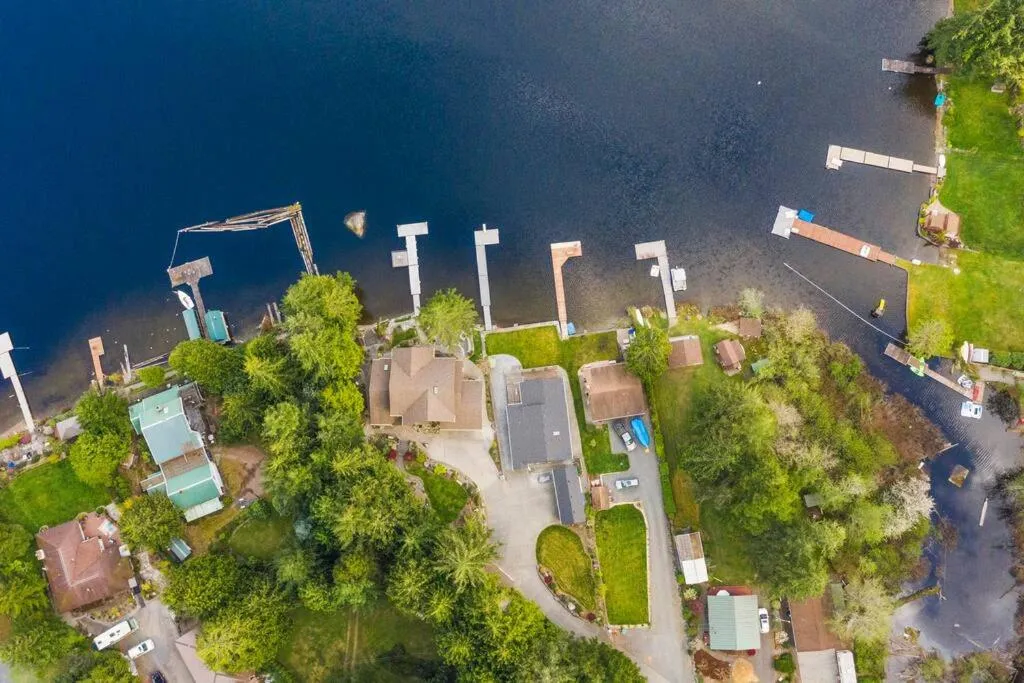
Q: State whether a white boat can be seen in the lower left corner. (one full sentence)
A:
No, I can find no white boat in the lower left corner.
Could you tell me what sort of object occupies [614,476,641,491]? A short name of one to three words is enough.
car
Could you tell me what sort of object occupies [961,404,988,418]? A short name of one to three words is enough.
boat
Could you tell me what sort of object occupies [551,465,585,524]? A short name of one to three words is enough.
building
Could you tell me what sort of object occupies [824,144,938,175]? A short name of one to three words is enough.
pier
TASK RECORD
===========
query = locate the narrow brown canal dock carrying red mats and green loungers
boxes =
[882,343,985,403]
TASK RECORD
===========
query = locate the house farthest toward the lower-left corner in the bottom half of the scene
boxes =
[36,520,137,614]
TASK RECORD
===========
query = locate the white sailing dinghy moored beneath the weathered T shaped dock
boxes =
[170,291,193,310]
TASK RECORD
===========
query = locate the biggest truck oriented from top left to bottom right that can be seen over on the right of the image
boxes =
[612,419,638,453]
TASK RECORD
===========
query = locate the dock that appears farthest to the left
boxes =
[0,332,35,431]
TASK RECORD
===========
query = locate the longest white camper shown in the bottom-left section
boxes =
[84,619,138,656]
